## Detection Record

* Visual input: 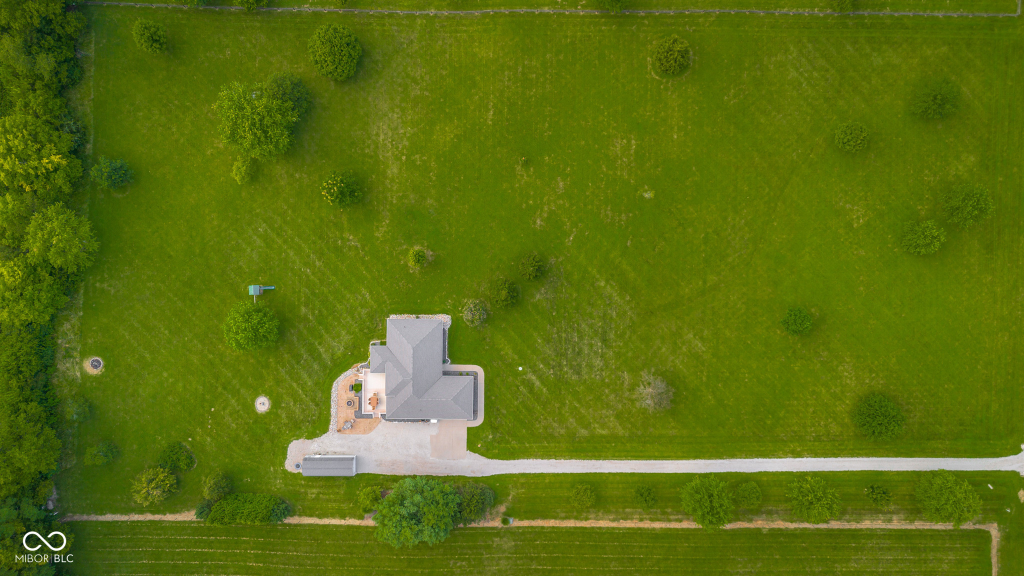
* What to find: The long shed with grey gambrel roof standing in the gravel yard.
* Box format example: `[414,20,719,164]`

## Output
[300,455,357,477]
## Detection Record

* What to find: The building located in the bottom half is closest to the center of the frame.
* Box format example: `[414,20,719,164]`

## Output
[370,318,474,420]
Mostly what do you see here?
grass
